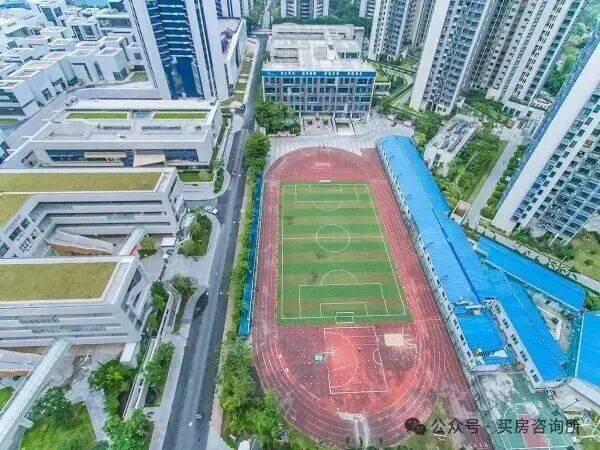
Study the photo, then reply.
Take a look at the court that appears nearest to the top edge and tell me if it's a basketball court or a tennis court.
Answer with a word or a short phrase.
basketball court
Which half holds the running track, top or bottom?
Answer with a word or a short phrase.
bottom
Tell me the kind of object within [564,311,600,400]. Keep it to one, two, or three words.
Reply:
building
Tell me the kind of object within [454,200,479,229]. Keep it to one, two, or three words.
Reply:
building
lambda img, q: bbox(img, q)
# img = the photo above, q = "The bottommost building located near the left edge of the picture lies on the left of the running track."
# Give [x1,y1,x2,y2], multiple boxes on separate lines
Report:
[0,255,152,340]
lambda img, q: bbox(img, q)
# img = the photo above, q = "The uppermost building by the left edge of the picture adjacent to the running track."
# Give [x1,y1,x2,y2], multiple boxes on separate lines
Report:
[0,97,222,169]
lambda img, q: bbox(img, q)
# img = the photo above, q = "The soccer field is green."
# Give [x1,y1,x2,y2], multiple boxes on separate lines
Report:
[271,181,416,326]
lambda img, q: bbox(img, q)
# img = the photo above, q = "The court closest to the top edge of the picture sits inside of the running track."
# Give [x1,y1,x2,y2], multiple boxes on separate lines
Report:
[324,326,387,393]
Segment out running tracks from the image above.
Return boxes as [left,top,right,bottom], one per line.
[249,147,494,450]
